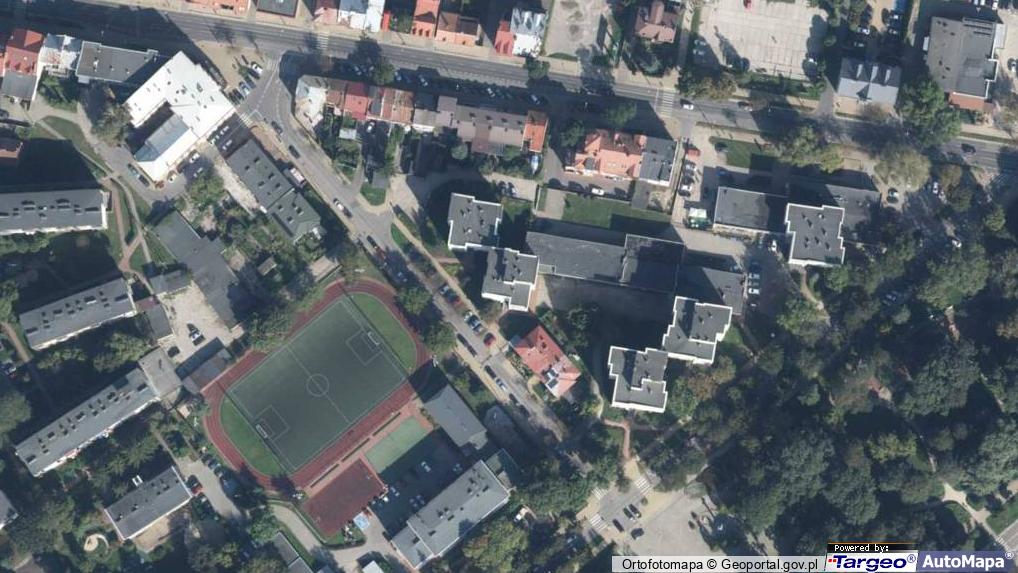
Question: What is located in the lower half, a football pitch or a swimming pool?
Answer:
football pitch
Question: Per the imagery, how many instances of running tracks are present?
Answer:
1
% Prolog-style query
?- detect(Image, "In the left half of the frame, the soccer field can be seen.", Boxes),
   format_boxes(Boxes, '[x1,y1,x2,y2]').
[225,297,409,474]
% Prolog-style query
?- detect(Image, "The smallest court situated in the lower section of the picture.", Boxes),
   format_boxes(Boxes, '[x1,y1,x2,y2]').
[366,416,428,474]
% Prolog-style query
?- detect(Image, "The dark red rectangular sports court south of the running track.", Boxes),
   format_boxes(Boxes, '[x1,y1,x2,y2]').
[304,460,387,537]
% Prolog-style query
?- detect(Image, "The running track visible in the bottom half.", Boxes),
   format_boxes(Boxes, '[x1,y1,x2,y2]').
[202,277,434,492]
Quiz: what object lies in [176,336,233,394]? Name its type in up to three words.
shed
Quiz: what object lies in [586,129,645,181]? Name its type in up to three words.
house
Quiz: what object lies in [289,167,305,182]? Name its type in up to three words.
vehicle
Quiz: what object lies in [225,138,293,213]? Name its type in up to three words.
building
